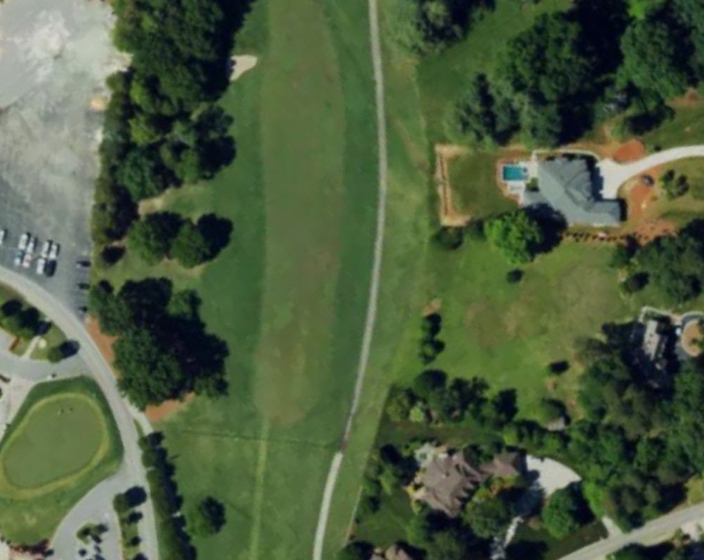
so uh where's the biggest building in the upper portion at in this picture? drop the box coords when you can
[531,145,623,229]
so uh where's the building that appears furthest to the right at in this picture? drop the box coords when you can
[639,316,672,369]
